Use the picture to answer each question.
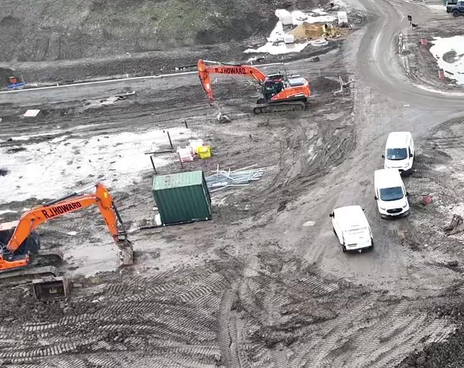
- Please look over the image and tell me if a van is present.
Yes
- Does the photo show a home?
No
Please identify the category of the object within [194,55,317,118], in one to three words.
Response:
work vehicle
